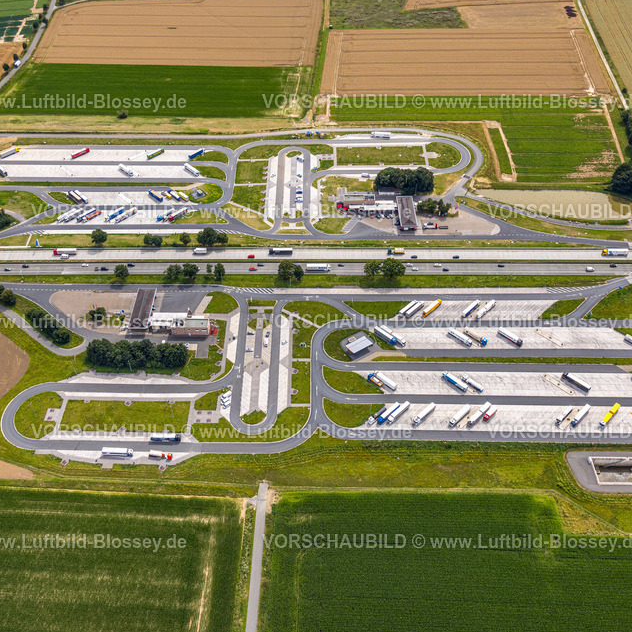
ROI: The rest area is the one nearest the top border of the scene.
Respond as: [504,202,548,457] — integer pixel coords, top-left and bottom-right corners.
[0,127,632,250]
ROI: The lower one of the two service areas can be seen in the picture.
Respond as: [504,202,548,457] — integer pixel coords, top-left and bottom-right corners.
[0,275,632,492]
